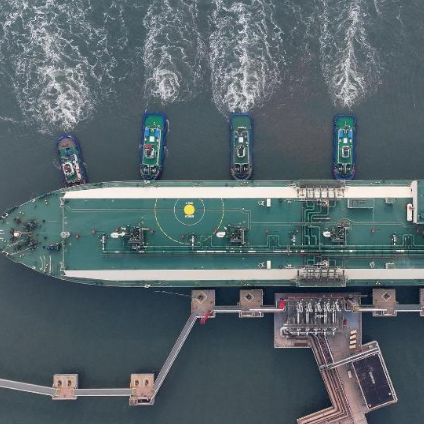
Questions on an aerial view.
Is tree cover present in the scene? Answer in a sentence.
No, there is no tree cover in the image.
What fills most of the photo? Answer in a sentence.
Most of the picture is covered by water.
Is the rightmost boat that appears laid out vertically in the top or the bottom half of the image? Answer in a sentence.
The rightmost boat that appears laid out vertically sits in the top half of the picture.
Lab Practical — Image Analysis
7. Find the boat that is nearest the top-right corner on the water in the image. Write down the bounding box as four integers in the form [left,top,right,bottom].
[332,113,357,180]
